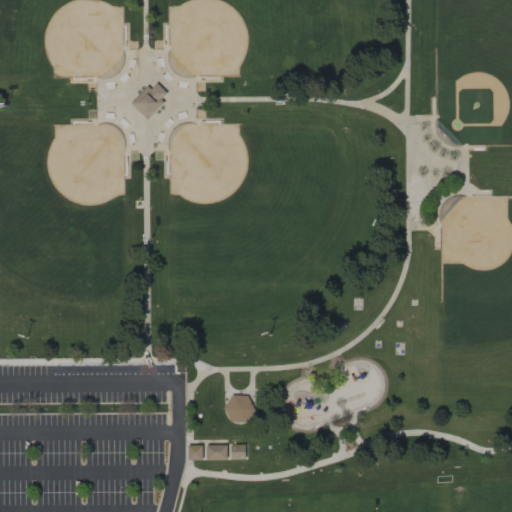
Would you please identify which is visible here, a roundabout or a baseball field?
baseball field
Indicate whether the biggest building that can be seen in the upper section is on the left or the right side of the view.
left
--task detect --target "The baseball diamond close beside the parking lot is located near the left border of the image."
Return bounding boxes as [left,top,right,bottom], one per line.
[0,122,126,296]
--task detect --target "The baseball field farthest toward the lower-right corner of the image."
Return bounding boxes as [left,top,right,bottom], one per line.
[440,196,512,347]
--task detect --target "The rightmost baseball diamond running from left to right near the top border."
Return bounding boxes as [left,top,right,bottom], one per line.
[168,0,342,78]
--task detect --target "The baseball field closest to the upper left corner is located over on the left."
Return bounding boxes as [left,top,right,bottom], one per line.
[0,0,125,78]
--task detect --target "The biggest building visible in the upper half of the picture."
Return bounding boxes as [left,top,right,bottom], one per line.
[133,82,168,118]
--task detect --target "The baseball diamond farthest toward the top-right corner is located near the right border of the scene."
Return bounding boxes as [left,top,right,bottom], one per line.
[437,0,512,146]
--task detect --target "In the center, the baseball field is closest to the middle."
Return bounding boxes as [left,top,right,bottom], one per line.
[170,122,340,302]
